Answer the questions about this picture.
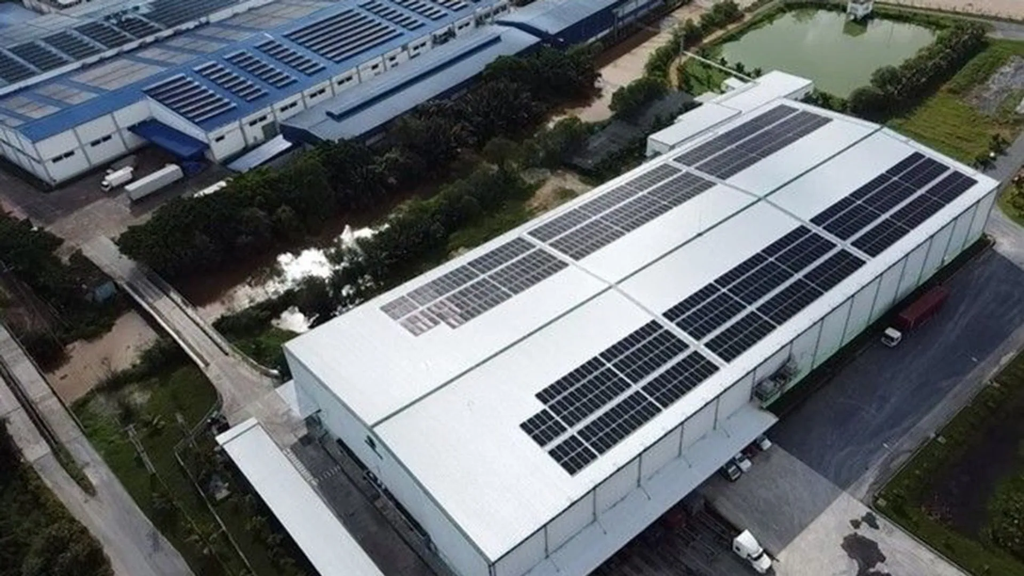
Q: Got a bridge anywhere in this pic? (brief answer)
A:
Yes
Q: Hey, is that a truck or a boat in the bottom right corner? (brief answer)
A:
truck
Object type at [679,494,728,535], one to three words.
trailer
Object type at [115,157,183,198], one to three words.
trailer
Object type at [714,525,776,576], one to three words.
truck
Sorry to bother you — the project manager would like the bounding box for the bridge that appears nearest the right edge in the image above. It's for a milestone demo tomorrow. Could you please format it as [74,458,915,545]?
[90,235,279,374]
